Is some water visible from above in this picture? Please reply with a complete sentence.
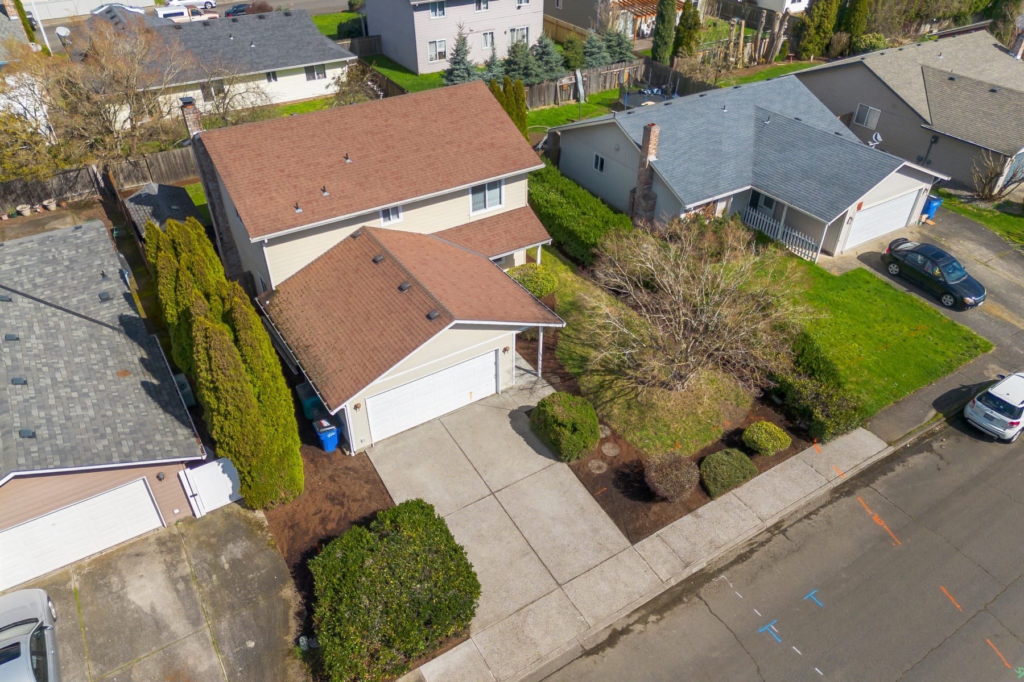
No, there is no water in the image.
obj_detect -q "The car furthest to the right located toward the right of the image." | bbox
[962,376,1024,449]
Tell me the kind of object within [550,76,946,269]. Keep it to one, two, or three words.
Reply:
house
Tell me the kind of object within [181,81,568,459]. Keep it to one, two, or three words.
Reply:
house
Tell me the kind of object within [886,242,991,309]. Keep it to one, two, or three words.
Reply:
car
